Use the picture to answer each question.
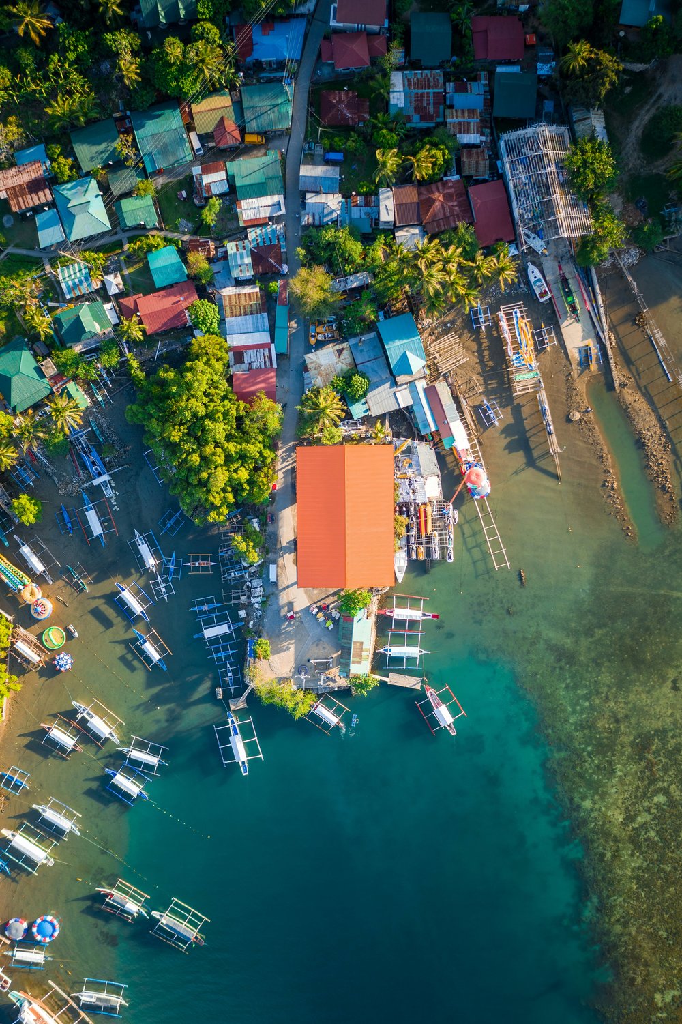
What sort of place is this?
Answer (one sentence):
It's a residential area.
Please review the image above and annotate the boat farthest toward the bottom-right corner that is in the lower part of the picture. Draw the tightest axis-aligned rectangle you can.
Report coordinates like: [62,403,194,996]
[416,684,467,737]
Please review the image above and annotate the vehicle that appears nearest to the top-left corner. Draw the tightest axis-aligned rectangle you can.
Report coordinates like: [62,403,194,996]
[190,133,205,158]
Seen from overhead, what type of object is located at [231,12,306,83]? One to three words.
house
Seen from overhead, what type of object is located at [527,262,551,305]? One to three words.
boat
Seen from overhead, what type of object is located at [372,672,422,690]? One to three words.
pier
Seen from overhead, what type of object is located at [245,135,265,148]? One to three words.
vehicle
